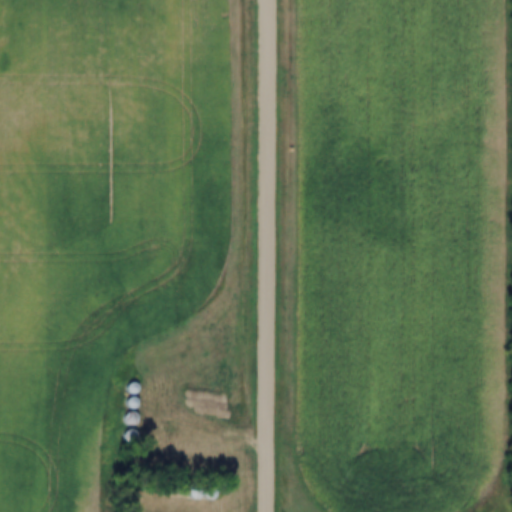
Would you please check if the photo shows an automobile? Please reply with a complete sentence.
No, there appears to be no automobile in this shot.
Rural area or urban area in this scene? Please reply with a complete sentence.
The area shown here is rural.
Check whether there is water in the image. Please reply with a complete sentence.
No, there is no water in the image.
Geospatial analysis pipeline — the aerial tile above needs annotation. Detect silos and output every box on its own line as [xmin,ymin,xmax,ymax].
[124,428,140,444]
[124,410,142,427]
[127,380,142,395]
[126,395,142,410]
